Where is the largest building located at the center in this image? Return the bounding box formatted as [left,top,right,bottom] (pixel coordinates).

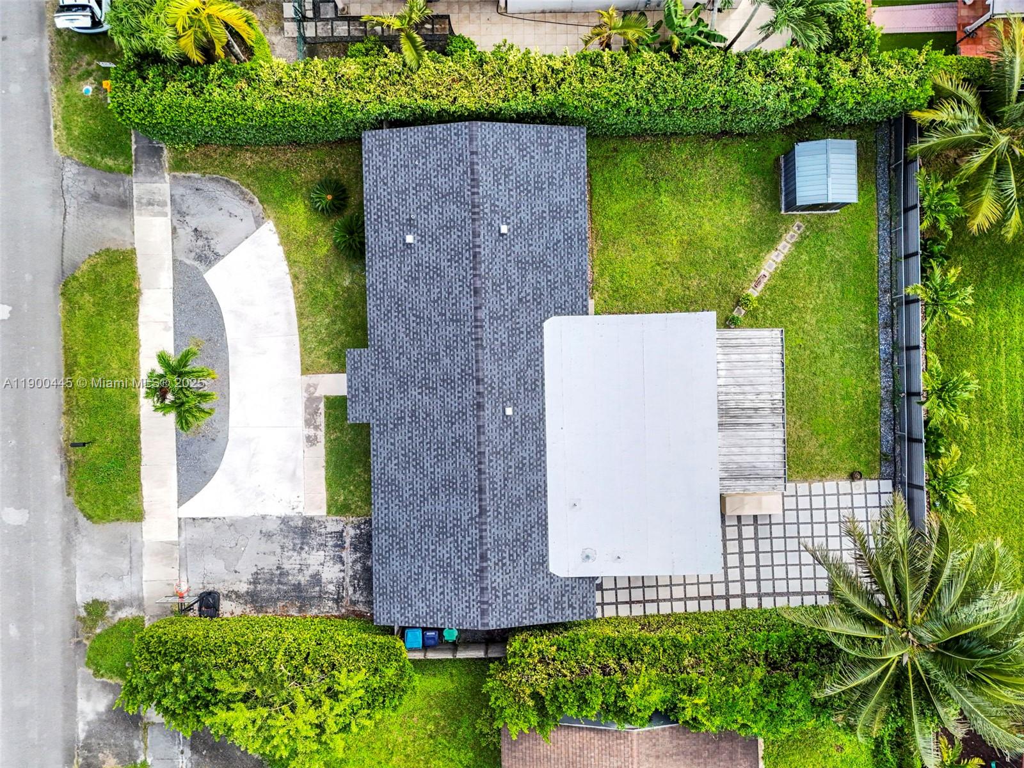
[347,121,722,631]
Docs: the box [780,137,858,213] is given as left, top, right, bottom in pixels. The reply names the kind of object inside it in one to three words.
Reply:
shed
